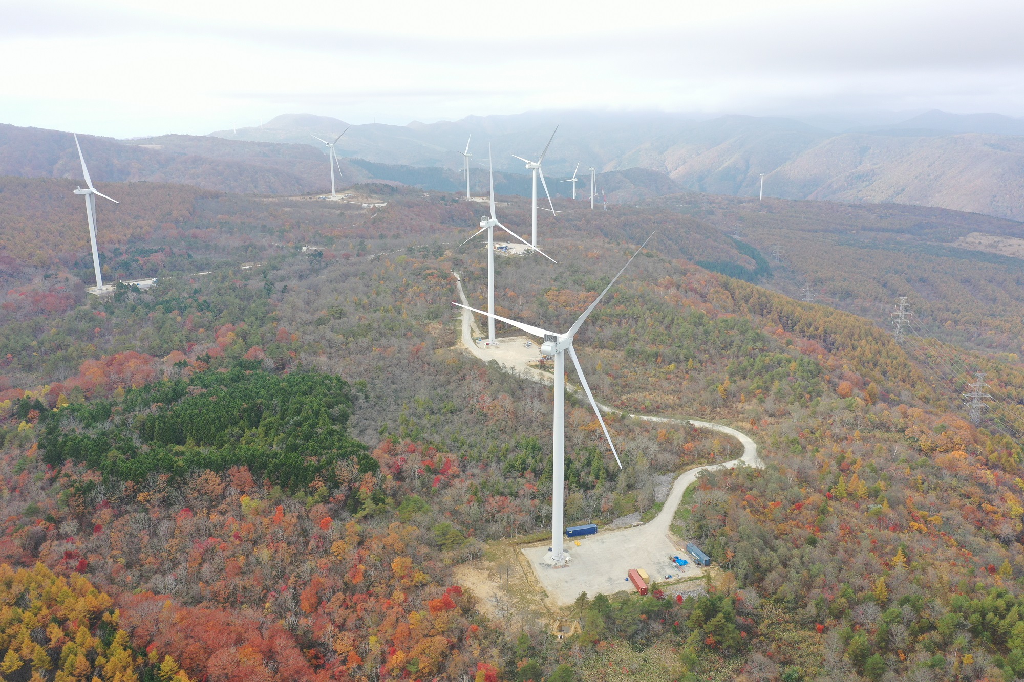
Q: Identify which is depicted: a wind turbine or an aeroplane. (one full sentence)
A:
This aerial view contains a wind turbine.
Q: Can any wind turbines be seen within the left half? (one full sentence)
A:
Yes, you'll find a wind turbine within the left half.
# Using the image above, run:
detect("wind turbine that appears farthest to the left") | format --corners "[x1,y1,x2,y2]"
[76,132,120,288]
